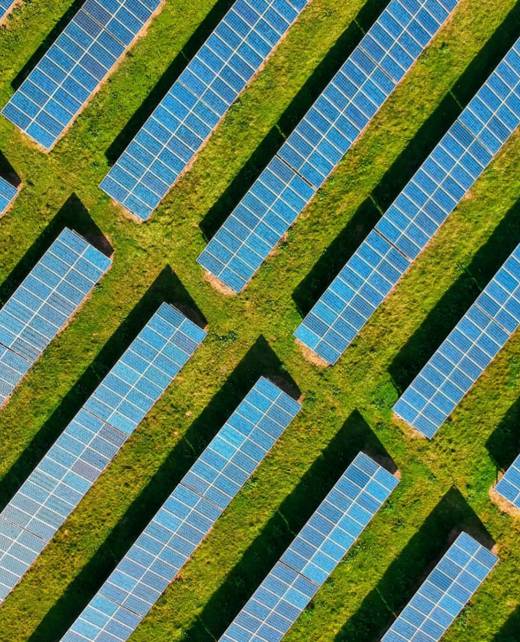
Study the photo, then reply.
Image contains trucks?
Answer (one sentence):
No, the scene contains no truck.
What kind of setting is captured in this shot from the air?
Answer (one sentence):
What you see here is a solar farm.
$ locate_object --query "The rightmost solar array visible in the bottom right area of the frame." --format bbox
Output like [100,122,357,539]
[496,456,520,507]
